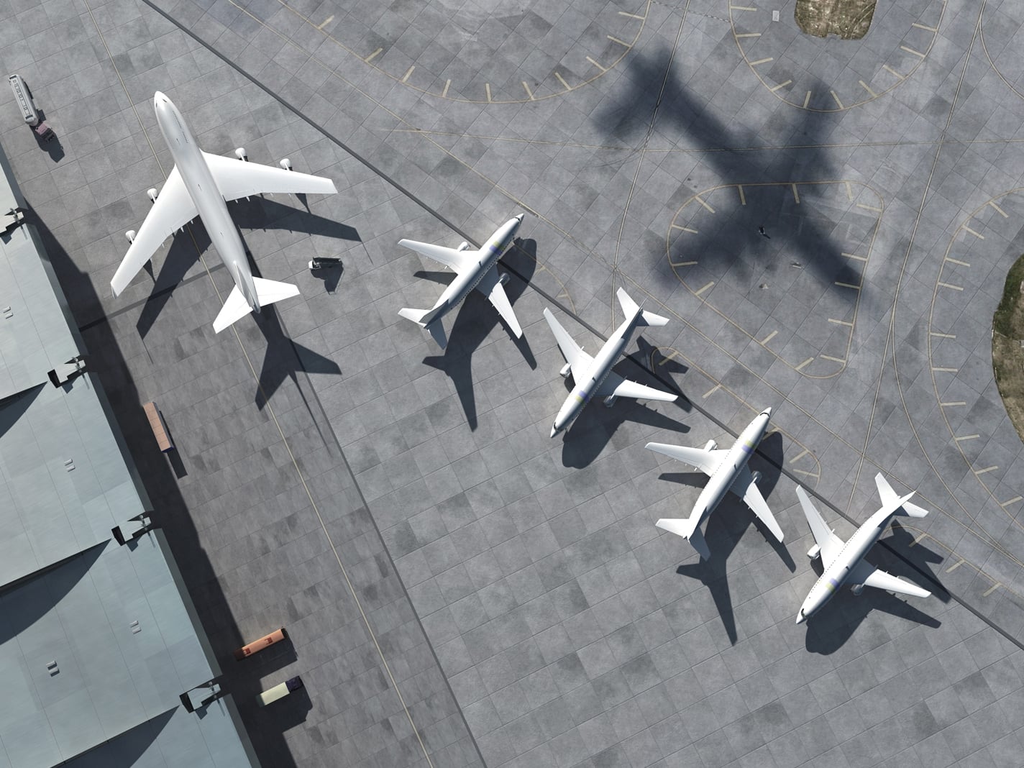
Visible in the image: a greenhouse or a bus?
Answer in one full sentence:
Looking from above, you can make out a bus.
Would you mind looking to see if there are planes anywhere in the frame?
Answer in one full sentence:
Yes, the frame does contain a plane.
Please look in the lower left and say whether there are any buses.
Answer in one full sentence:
Yes, a bus shows up in the lower left.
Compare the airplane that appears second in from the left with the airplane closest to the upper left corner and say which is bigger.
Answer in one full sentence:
Of the two, the airplane closest to the upper left corner is bigger, while the airplane that appears second in from the left is smaller.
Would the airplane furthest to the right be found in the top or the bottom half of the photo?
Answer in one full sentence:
Seen from above, the airplane furthest to the right lies in the bottom half of the view.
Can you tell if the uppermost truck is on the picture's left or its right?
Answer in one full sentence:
The uppermost truck is on the left side of the image.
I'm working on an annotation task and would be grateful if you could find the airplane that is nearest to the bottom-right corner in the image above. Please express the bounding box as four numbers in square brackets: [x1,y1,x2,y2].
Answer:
[797,477,933,623]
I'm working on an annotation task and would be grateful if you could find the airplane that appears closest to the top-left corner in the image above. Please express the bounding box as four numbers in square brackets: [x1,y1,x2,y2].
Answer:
[114,92,340,336]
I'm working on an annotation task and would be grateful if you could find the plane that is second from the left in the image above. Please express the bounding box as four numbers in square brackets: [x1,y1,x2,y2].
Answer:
[398,214,524,352]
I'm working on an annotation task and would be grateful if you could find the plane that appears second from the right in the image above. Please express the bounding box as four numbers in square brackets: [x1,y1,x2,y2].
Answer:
[646,407,788,562]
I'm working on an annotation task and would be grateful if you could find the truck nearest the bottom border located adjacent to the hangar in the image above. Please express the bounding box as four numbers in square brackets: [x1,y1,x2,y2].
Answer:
[255,674,306,706]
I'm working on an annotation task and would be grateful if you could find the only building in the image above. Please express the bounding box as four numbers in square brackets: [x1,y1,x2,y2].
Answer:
[0,144,260,768]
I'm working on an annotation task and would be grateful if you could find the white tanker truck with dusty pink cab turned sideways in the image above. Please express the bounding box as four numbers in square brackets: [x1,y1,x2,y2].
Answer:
[11,77,57,144]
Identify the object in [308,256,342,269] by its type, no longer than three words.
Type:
vehicle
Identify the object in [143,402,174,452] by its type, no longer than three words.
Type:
trailer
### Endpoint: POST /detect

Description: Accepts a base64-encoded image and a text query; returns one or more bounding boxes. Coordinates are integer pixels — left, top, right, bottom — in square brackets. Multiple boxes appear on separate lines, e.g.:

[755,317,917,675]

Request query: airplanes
[797,477,933,623]
[646,407,788,562]
[543,288,677,437]
[114,92,340,336]
[398,214,524,352]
